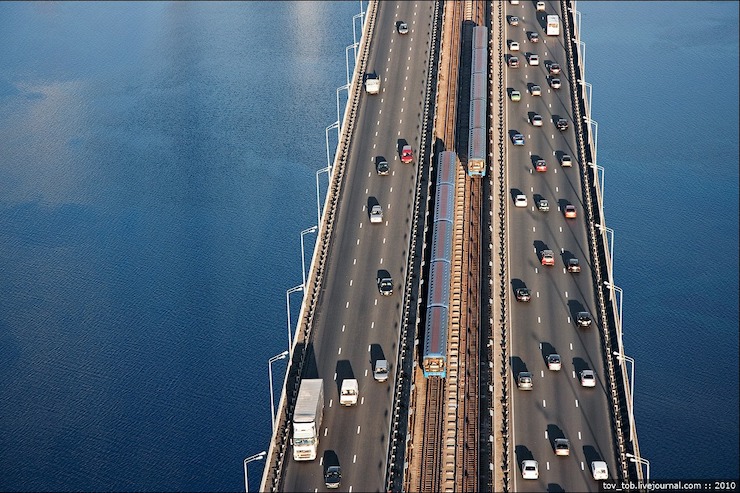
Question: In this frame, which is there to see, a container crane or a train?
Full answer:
Visible in the photo is a train.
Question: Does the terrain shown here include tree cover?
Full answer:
No, tree cover can't be seen anywhere here.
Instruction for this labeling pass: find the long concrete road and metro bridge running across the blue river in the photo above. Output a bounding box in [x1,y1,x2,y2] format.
[261,0,645,493]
